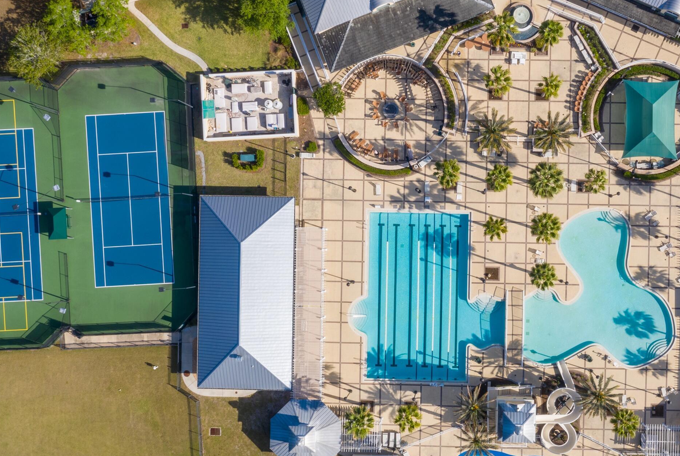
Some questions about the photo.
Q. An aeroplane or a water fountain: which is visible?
water fountain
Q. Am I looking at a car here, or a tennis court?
tennis court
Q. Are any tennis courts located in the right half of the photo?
No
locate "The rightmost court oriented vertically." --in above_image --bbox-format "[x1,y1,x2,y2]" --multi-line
[58,65,194,333]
